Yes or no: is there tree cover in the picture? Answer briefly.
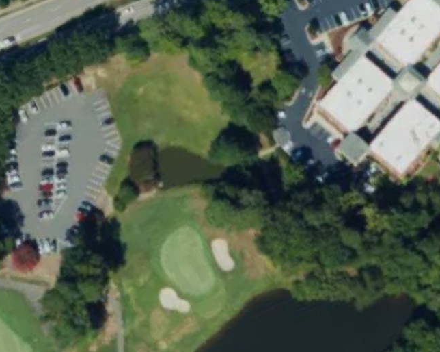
Yes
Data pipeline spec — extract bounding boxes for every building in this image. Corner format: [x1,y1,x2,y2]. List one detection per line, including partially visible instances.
[273,127,290,147]
[319,0,440,177]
